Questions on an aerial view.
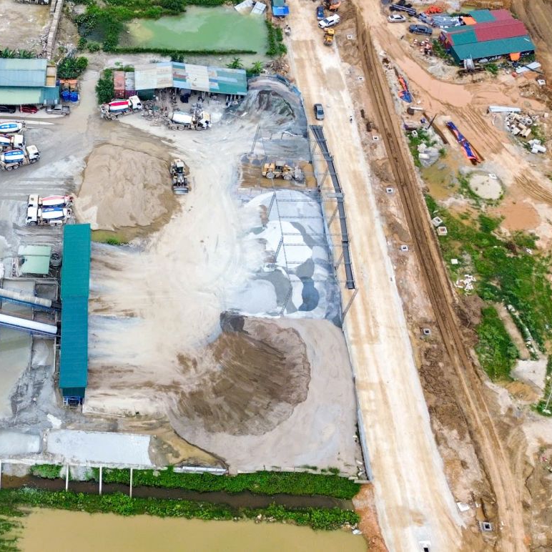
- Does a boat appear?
No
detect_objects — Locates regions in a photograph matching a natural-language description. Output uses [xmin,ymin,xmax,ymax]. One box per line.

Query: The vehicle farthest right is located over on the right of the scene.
[410,21,434,36]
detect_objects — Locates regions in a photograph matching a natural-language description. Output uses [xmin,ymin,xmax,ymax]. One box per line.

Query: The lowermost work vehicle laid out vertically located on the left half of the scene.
[172,158,189,196]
